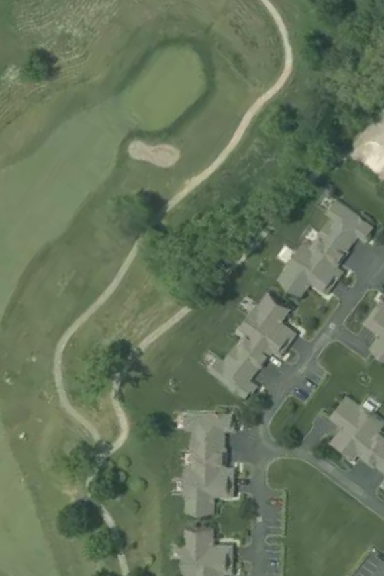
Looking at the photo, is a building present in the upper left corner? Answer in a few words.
No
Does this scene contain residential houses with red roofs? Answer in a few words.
No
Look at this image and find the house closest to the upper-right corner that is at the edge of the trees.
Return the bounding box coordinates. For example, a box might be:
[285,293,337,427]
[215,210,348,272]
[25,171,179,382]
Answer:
[274,194,379,299]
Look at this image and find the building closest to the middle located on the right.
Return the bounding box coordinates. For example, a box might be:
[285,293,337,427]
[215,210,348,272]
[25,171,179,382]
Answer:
[200,287,298,399]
